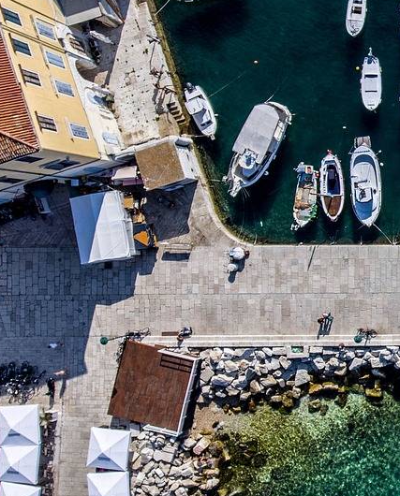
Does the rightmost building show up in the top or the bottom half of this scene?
top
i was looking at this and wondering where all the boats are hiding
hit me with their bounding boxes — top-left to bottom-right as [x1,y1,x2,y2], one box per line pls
[225,96,296,198]
[345,0,370,36]
[349,136,384,226]
[182,80,220,139]
[358,48,385,111]
[290,159,318,228]
[309,152,345,220]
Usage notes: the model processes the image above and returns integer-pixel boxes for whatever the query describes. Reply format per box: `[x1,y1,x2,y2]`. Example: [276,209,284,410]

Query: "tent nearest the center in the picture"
[70,188,142,264]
